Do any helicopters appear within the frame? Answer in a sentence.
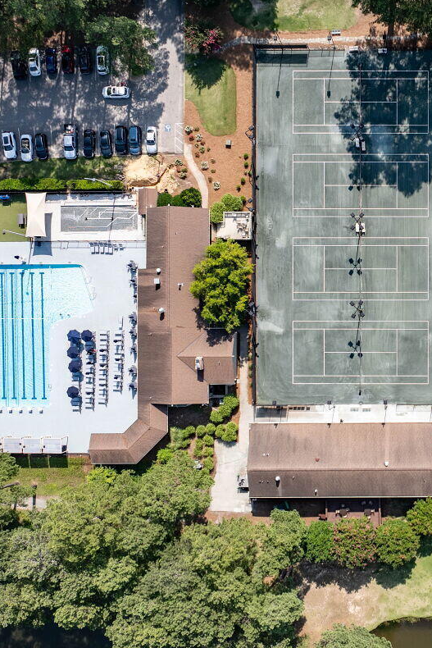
No, the frame has no helicopter in it.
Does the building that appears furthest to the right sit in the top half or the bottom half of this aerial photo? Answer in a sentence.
Seen from above, the building that appears furthest to the right lies in the bottom half of the view.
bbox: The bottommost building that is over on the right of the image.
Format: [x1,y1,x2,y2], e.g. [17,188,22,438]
[246,422,432,499]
